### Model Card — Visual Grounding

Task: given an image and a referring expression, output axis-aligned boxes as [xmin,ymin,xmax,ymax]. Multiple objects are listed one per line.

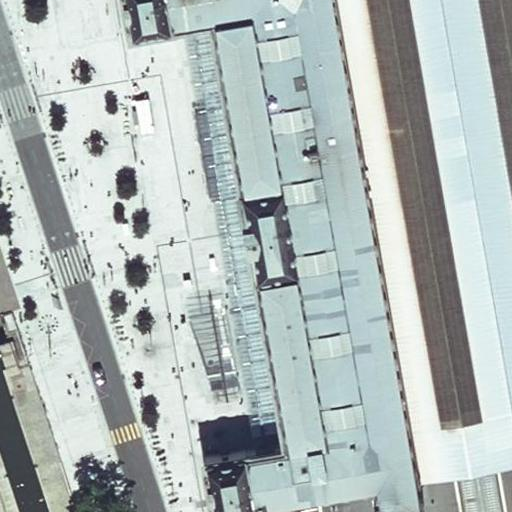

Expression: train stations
[122,0,427,512]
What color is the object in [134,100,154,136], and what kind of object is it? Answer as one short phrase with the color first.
white vehicle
